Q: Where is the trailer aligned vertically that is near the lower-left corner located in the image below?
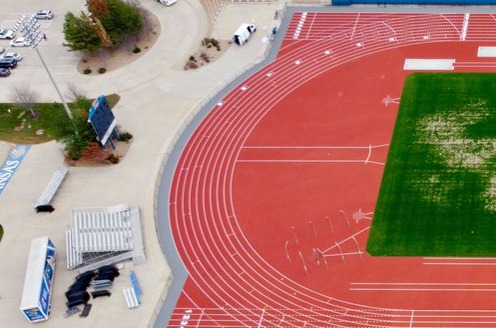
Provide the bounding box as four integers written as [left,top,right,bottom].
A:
[20,237,57,319]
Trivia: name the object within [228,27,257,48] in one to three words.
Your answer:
vehicle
